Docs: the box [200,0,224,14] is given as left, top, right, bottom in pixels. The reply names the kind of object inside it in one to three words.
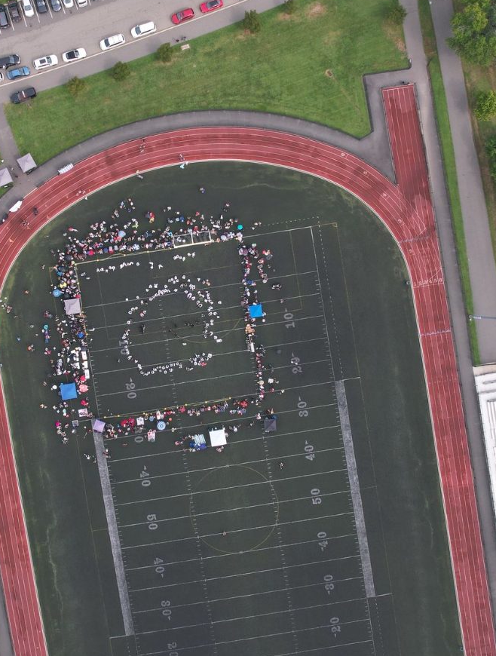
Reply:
car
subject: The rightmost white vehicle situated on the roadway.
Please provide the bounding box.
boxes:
[131,21,157,38]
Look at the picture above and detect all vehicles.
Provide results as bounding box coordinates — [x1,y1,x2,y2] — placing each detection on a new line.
[7,0,22,27]
[200,0,224,14]
[11,88,37,102]
[7,67,31,80]
[62,48,86,62]
[21,0,34,19]
[100,34,125,49]
[77,0,87,8]
[131,21,157,38]
[0,54,21,68]
[61,0,73,9]
[171,8,196,25]
[33,55,59,69]
[49,0,61,13]
[0,5,9,29]
[35,0,48,15]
